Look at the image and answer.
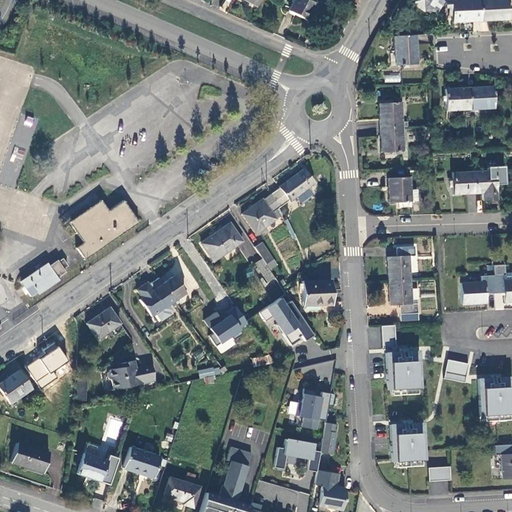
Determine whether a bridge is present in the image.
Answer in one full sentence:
No, the photo shows no bridge.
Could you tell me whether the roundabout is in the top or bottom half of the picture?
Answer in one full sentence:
The top half of the photo is where the roundabout is.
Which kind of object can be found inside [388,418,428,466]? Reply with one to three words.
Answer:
building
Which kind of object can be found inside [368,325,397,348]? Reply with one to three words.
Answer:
building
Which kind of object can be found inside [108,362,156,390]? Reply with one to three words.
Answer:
house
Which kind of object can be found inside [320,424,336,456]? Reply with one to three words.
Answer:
house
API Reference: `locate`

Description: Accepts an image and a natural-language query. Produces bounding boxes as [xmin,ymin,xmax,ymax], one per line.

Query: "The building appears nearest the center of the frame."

[252,241,277,286]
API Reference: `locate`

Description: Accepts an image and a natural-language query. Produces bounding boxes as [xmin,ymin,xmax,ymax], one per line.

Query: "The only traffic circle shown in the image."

[276,51,358,171]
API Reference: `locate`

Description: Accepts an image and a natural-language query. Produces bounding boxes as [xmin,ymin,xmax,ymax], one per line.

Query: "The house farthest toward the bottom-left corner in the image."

[12,442,52,475]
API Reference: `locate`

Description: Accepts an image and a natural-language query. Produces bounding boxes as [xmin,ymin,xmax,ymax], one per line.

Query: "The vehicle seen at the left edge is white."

[10,146,23,159]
